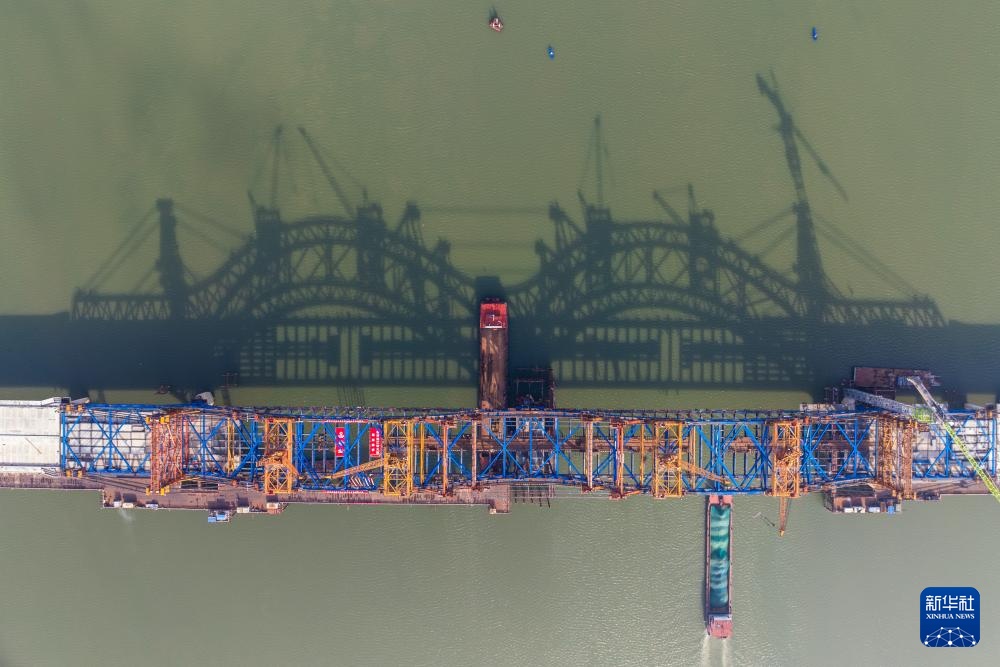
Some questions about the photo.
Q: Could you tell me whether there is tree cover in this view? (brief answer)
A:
No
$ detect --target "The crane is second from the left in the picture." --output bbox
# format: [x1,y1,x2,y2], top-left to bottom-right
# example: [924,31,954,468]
[330,414,415,494]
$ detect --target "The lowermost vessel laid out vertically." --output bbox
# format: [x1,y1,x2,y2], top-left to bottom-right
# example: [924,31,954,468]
[707,479,733,639]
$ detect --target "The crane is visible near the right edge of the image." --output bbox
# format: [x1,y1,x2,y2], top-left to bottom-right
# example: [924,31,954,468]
[827,372,1000,503]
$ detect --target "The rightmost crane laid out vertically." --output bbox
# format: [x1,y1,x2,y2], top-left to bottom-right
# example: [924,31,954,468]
[752,417,799,536]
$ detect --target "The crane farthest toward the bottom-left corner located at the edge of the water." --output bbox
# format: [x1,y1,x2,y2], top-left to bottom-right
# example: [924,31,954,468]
[256,413,302,493]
